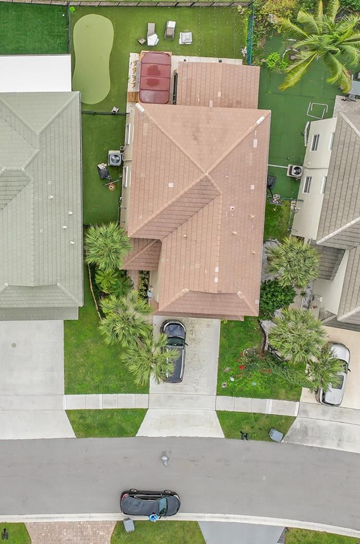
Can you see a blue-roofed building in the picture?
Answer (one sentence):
No, the picture doesn't show any blue-roofed building.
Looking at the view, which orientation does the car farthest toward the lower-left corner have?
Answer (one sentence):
Seen from above, the car farthest toward the lower-left corner lies horizontally.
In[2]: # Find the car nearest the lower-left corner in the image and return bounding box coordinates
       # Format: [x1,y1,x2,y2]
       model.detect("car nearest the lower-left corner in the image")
[120,488,179,519]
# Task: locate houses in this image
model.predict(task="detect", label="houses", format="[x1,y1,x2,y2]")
[0,54,85,321]
[291,112,360,331]
[118,62,272,321]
